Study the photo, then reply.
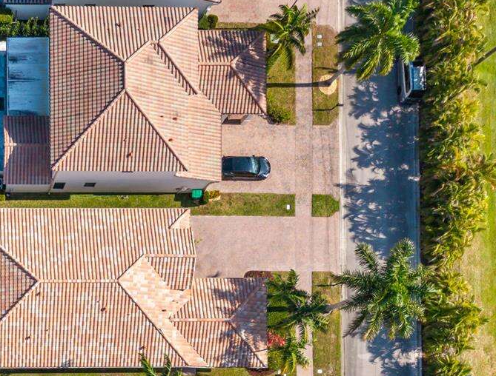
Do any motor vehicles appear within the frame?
Yes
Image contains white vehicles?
No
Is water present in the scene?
No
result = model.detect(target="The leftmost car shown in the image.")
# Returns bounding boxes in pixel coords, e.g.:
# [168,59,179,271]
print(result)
[218,153,271,180]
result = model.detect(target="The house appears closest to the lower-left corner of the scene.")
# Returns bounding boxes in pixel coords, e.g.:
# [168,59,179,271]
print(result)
[0,206,269,369]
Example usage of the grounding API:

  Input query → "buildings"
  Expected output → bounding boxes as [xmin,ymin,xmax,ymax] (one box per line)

[3,3,268,193]
[0,206,269,369]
